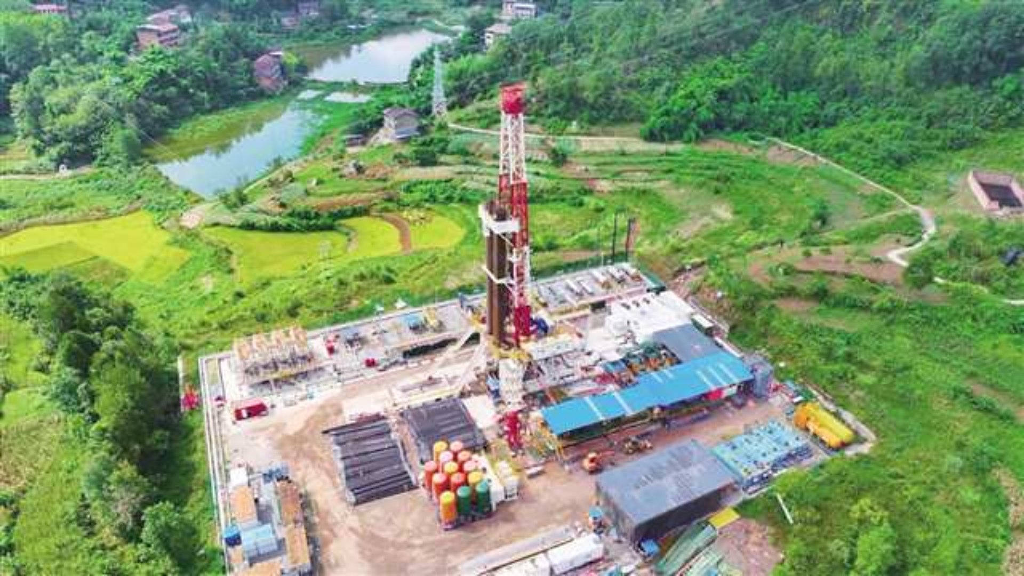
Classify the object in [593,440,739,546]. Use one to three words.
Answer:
shed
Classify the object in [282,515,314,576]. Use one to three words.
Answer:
building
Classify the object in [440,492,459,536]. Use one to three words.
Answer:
silo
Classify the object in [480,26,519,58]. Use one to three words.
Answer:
house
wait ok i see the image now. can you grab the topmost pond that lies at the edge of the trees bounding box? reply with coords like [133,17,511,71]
[305,29,438,82]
